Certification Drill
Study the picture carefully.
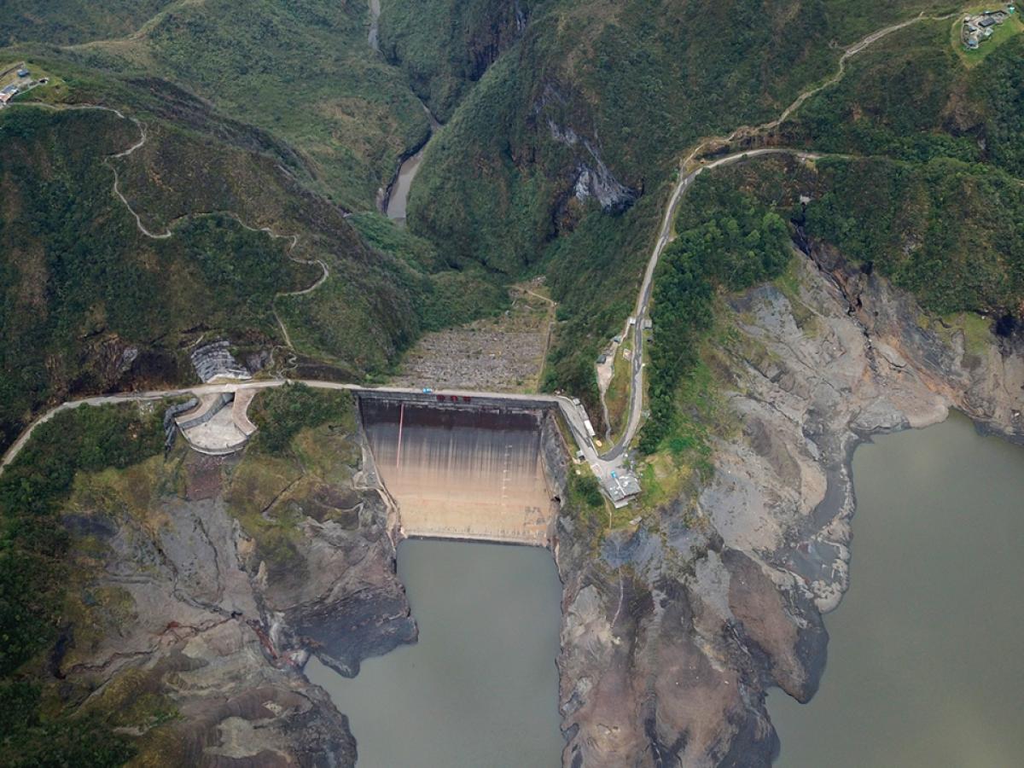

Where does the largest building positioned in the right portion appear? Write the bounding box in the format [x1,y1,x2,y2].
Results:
[605,477,642,512]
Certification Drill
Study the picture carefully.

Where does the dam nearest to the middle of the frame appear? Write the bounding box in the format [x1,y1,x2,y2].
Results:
[349,281,557,552]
